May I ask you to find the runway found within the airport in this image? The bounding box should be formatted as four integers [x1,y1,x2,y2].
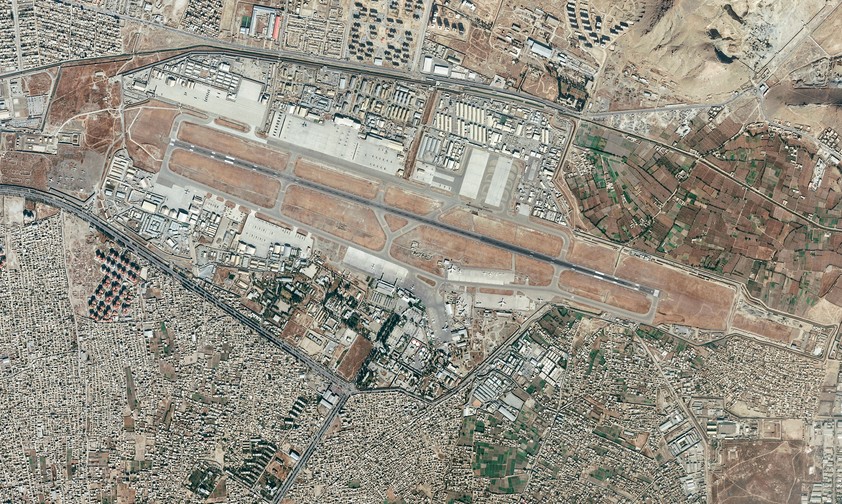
[170,138,659,297]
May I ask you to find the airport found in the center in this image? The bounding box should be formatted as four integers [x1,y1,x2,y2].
[125,72,830,356]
